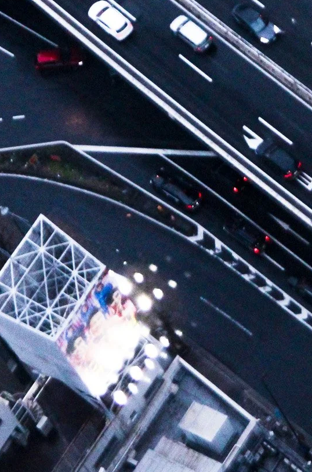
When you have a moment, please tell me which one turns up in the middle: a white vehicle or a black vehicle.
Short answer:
black vehicle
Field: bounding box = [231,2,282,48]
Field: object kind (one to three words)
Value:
car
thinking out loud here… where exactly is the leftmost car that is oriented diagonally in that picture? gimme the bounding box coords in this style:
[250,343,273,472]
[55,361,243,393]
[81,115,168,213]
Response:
[89,1,137,44]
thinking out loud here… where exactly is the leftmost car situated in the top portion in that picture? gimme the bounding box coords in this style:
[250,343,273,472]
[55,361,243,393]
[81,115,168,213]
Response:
[34,46,87,75]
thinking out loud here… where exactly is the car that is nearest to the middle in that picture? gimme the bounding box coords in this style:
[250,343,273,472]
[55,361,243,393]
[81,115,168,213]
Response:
[153,169,203,213]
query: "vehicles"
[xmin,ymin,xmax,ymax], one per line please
[167,14,217,57]
[255,140,303,182]
[206,158,255,201]
[34,46,87,75]
[153,169,203,213]
[89,1,137,44]
[231,2,282,48]
[222,215,273,260]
